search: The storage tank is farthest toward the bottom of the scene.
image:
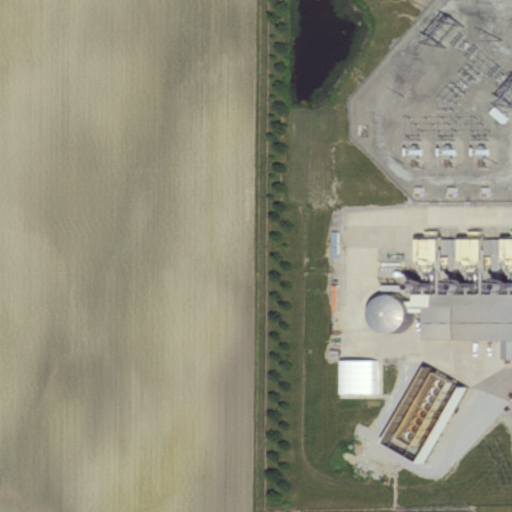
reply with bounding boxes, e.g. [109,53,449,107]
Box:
[364,294,414,333]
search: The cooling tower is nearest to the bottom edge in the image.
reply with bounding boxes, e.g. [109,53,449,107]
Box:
[380,368,467,461]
